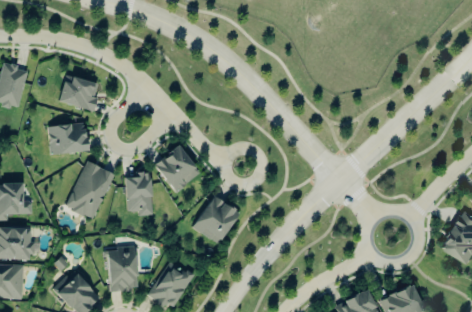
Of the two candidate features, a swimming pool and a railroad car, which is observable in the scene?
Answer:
swimming pool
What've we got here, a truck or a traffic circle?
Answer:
traffic circle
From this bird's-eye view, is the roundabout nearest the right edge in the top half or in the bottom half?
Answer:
bottom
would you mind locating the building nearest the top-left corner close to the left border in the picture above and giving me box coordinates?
[0,62,28,110]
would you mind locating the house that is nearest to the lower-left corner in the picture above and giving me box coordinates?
[0,264,23,299]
